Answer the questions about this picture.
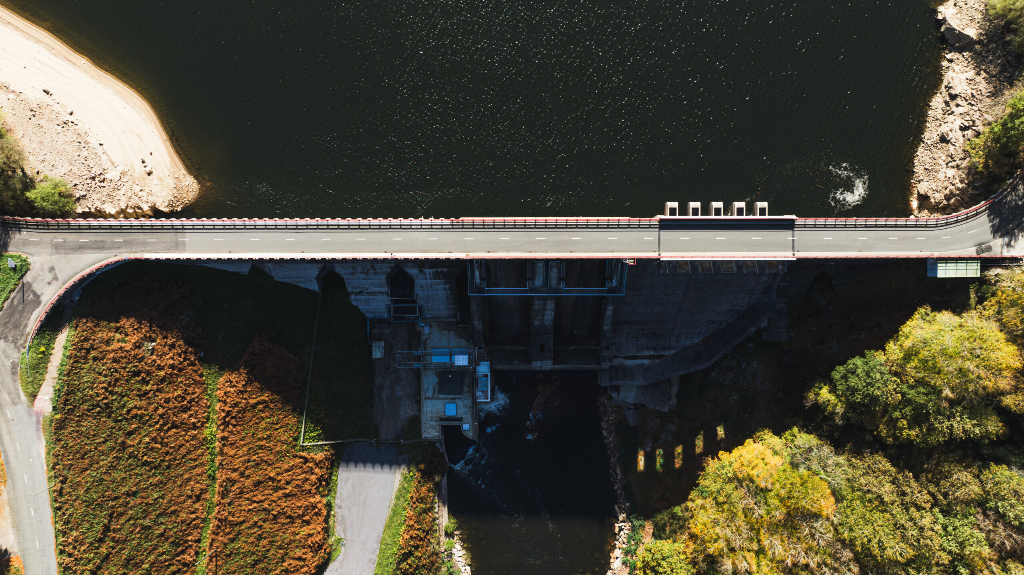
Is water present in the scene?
Yes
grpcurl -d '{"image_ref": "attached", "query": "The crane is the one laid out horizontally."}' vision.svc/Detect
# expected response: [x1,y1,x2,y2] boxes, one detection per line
[395,349,476,368]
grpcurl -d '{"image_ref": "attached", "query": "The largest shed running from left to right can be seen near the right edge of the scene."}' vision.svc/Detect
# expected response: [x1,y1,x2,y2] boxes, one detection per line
[924,261,980,277]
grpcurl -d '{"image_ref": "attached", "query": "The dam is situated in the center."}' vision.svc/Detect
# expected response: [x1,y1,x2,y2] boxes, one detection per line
[0,177,1023,388]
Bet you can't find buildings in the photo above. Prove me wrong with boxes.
[418,321,491,439]
[372,341,385,358]
[924,261,980,277]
